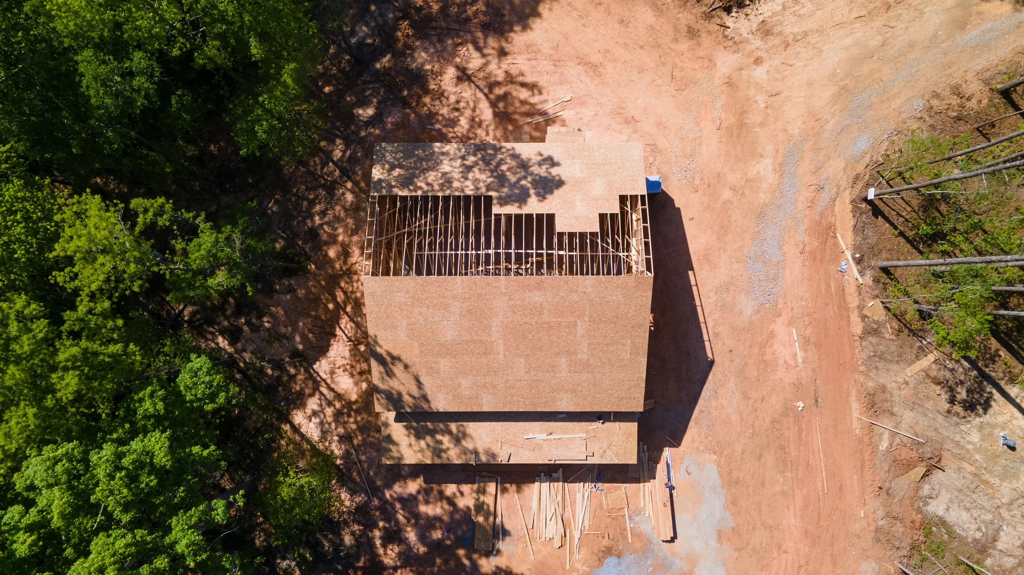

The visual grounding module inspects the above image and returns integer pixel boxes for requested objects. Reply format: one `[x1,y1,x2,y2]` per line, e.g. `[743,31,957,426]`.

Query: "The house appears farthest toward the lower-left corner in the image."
[364,142,653,467]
